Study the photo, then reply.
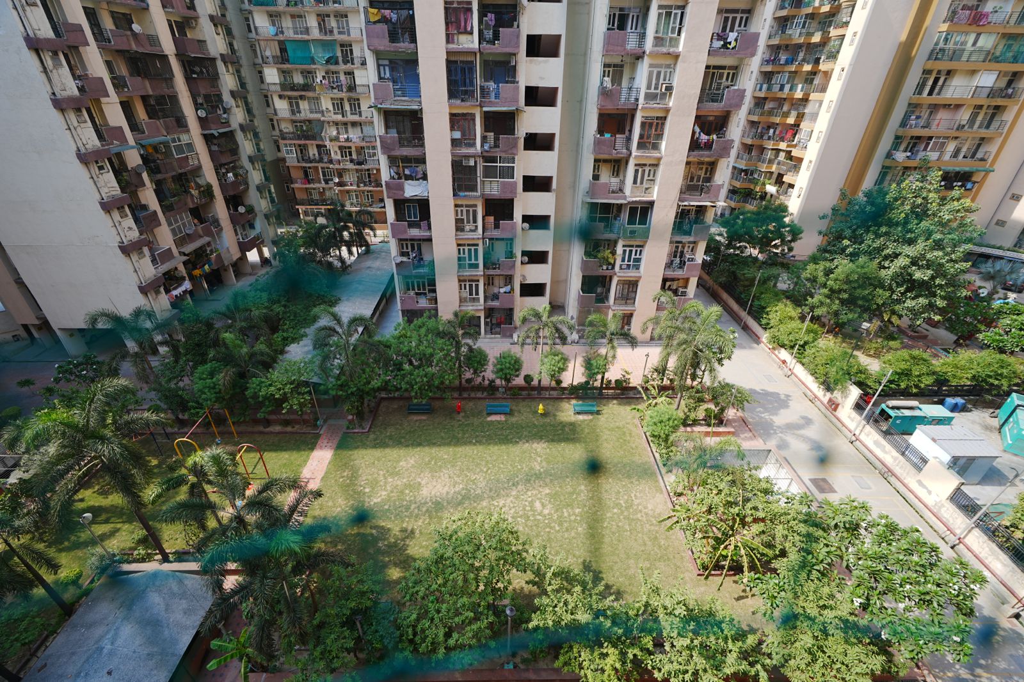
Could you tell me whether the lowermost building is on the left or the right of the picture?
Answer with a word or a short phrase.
left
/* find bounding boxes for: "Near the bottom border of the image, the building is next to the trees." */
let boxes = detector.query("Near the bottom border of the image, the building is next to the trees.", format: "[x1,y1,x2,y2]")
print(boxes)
[15,573,237,682]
